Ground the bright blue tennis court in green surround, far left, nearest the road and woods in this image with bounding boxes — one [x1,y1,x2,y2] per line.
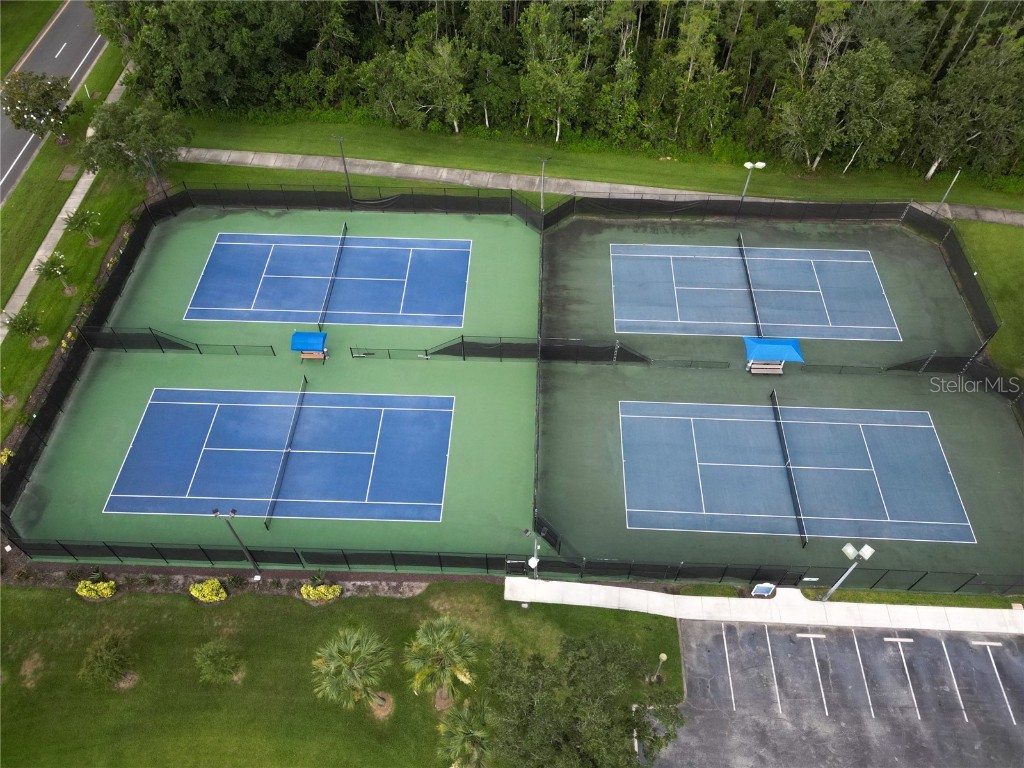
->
[94,206,541,362]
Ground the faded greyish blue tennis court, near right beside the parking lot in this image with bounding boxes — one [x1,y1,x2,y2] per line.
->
[536,362,1024,599]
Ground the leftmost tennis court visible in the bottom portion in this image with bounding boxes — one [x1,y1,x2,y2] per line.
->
[8,349,578,583]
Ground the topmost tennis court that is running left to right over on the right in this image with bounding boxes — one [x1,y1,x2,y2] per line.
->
[540,215,987,374]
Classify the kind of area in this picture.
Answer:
sports ground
